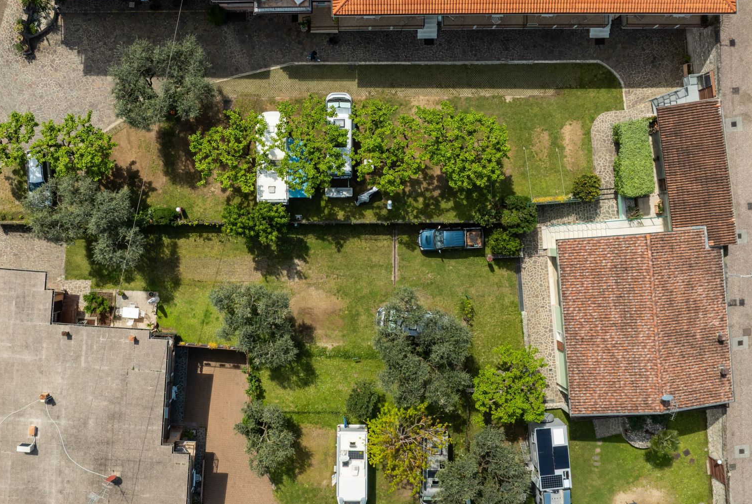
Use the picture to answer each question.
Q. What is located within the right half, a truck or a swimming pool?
truck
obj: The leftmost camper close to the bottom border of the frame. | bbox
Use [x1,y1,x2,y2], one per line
[329,419,369,504]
